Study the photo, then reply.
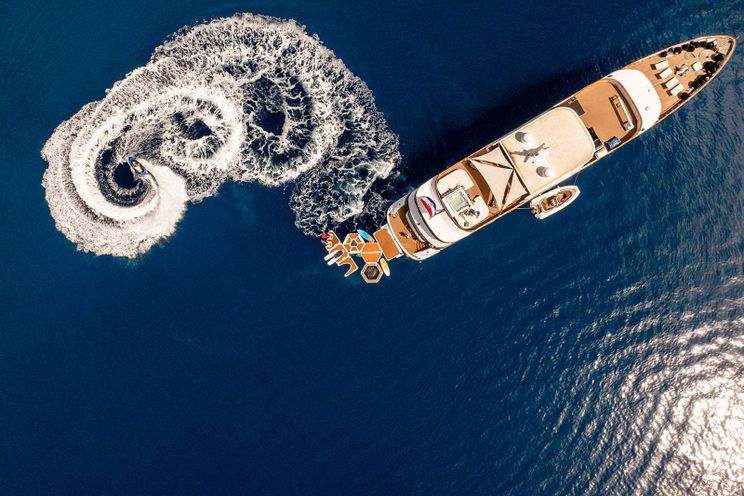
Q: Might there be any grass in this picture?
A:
No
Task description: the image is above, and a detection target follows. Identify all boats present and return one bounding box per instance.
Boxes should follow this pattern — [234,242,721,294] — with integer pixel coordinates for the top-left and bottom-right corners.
[323,250,344,265]
[528,187,581,219]
[129,158,146,176]
[373,33,744,261]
